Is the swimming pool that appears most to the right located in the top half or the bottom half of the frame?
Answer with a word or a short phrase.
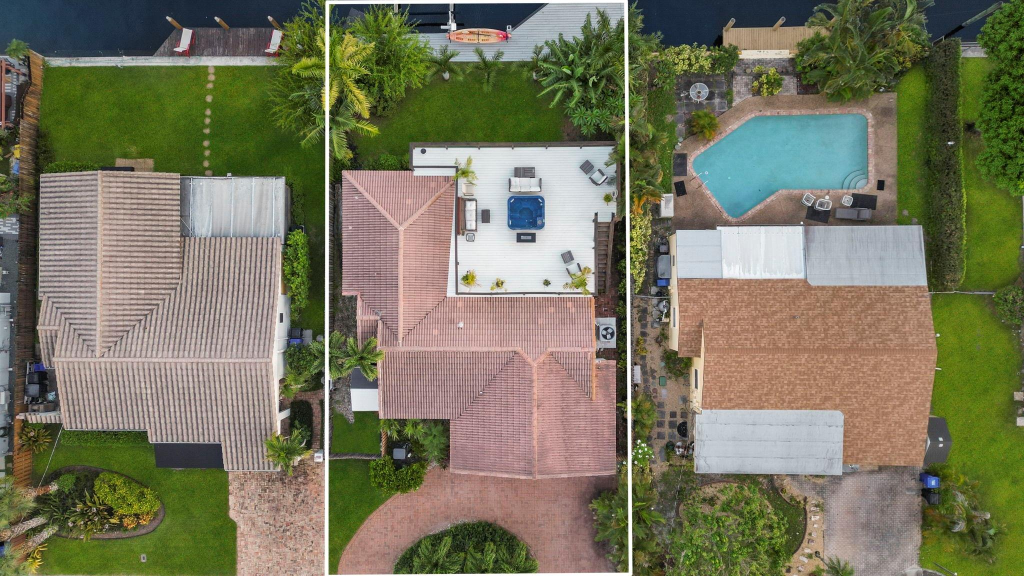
top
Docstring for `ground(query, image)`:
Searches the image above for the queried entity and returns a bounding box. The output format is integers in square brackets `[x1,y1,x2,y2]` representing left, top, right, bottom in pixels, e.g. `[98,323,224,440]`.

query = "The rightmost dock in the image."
[723,27,803,49]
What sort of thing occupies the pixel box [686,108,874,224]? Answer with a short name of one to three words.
swimming pool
